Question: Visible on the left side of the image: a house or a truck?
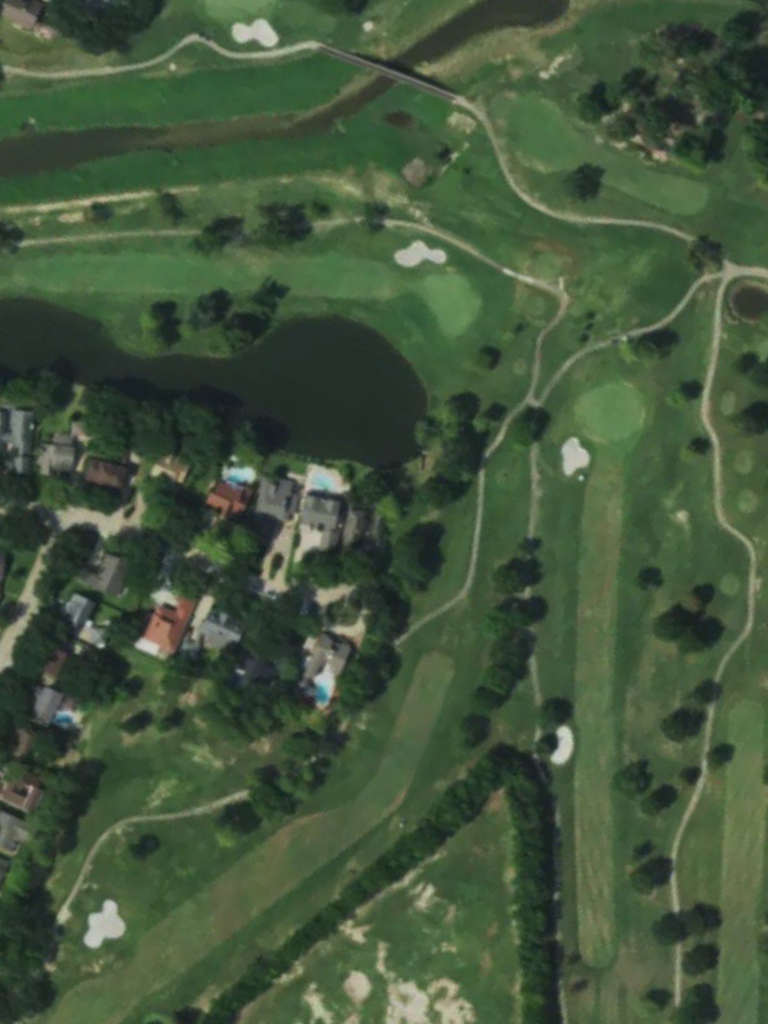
house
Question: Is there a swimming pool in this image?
Yes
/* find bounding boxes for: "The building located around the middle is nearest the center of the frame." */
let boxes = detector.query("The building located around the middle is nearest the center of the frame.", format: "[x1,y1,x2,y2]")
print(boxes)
[342,502,383,545]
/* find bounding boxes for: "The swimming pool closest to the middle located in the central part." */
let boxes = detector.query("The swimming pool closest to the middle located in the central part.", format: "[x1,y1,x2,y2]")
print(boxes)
[305,464,349,493]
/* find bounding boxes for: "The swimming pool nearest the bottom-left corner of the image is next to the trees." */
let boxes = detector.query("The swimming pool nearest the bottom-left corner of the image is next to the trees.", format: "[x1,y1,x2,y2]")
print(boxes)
[56,709,83,727]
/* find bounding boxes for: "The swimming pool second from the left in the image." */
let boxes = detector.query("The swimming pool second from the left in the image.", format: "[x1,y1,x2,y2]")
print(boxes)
[223,466,256,485]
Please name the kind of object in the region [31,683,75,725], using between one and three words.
house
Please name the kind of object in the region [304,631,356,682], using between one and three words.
house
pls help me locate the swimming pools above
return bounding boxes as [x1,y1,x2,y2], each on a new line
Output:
[56,709,83,727]
[223,466,256,485]
[305,464,349,493]
[313,665,336,707]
